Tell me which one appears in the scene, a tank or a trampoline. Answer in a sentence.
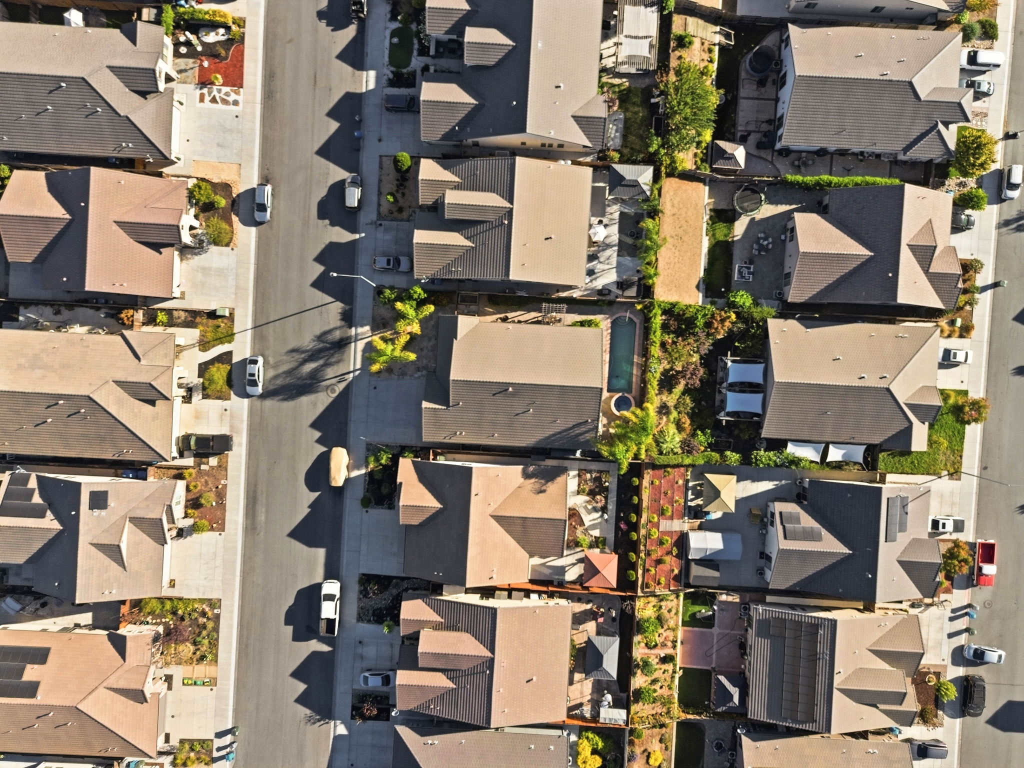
Visible in the photo is a trampoline.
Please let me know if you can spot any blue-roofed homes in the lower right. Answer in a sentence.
No, no blue-roofed home can be made out in the lower right.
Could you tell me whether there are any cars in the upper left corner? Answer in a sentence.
Yes, you'll find a car in the upper left corner.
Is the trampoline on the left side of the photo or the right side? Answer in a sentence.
The trampoline appears in the right half of the scene.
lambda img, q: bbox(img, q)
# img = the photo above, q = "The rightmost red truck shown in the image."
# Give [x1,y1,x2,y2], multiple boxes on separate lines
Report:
[972,539,999,585]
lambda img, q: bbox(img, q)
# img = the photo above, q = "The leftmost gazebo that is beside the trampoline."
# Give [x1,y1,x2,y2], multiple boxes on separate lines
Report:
[714,141,745,169]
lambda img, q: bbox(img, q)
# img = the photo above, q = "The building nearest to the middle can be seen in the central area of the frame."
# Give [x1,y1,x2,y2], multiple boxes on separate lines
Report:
[422,315,602,450]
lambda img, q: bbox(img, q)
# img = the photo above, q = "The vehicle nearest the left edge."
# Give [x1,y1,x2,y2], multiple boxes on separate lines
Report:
[177,434,234,455]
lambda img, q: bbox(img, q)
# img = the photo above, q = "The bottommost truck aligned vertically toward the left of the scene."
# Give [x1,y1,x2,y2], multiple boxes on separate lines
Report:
[319,580,342,637]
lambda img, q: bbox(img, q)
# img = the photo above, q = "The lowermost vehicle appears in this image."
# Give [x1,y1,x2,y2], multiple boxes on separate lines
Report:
[910,738,951,760]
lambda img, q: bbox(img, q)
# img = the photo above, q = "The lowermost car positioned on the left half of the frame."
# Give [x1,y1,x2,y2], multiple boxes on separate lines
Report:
[359,668,398,690]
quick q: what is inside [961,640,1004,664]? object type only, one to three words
car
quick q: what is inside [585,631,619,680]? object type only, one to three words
gazebo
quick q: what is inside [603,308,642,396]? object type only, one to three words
swimming pool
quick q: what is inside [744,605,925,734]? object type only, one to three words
house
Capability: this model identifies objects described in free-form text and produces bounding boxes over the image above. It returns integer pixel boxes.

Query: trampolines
[732,178,772,216]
